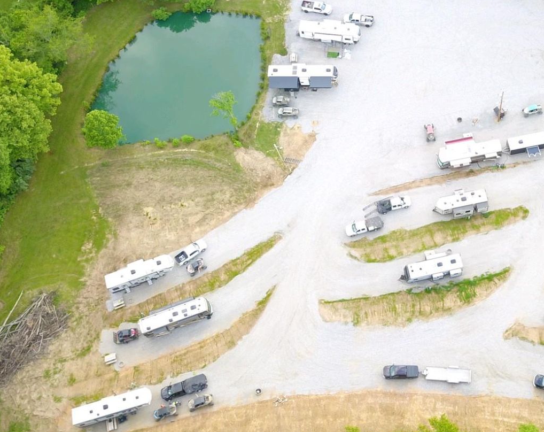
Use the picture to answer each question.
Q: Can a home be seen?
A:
No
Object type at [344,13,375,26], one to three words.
vehicle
